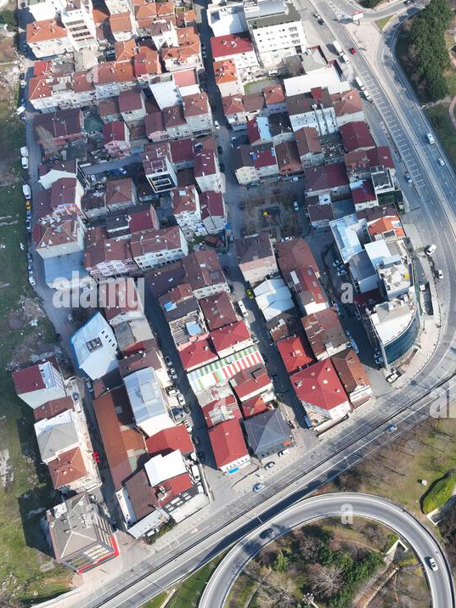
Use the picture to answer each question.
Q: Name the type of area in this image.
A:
residential area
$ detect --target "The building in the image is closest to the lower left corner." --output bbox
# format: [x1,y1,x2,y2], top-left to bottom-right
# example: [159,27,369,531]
[46,492,113,574]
